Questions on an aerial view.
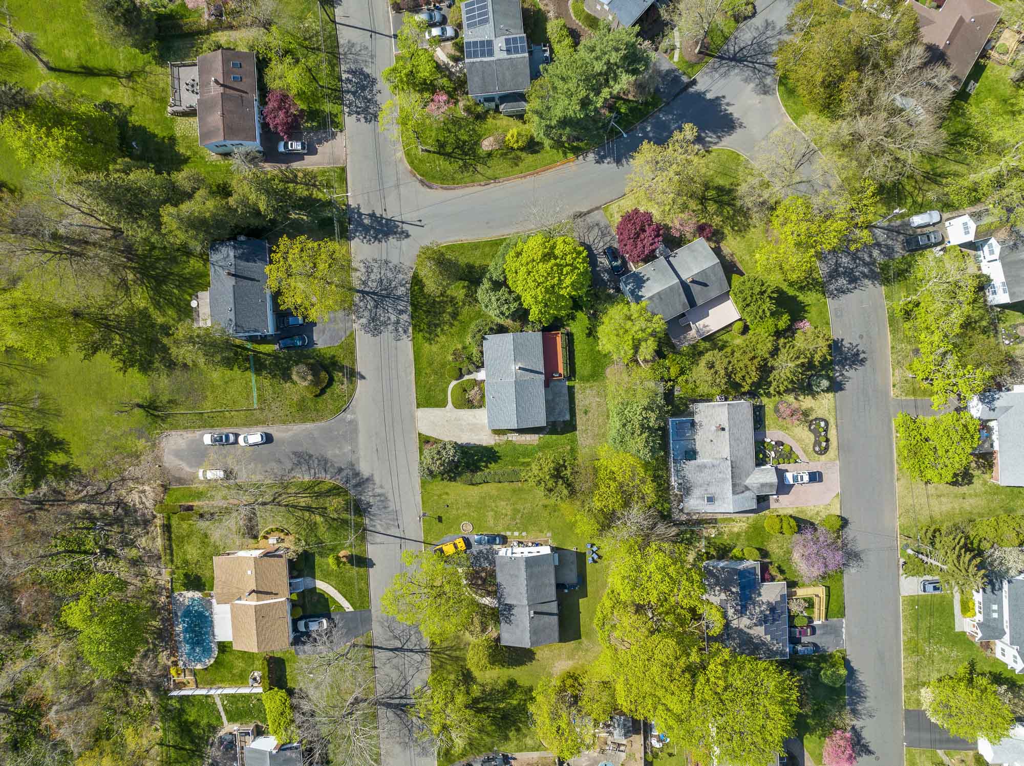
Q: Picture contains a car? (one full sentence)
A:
Yes, this view includes a car.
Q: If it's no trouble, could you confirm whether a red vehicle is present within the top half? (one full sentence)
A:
No, no red vehicle appears within the top half.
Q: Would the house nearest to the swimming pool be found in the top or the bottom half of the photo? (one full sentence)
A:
The house nearest to the swimming pool is in the bottom half of the image.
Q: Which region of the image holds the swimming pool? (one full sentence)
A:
You can find the swimming pool in the bottom left area of the picture.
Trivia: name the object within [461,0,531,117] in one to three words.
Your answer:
house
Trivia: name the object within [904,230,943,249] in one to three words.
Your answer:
vehicle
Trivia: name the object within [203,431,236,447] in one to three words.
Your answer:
car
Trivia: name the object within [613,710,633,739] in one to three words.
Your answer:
shed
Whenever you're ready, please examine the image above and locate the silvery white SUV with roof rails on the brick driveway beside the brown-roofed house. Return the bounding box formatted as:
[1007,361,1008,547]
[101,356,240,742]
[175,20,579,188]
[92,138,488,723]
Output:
[277,138,309,155]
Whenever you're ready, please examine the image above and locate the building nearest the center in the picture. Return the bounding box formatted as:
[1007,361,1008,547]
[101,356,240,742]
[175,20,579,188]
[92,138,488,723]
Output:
[474,332,546,430]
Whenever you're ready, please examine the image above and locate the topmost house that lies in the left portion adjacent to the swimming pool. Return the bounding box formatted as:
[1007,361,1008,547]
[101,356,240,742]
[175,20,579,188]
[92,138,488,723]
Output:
[213,543,303,653]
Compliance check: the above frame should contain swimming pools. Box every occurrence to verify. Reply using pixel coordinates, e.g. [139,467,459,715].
[177,596,214,665]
